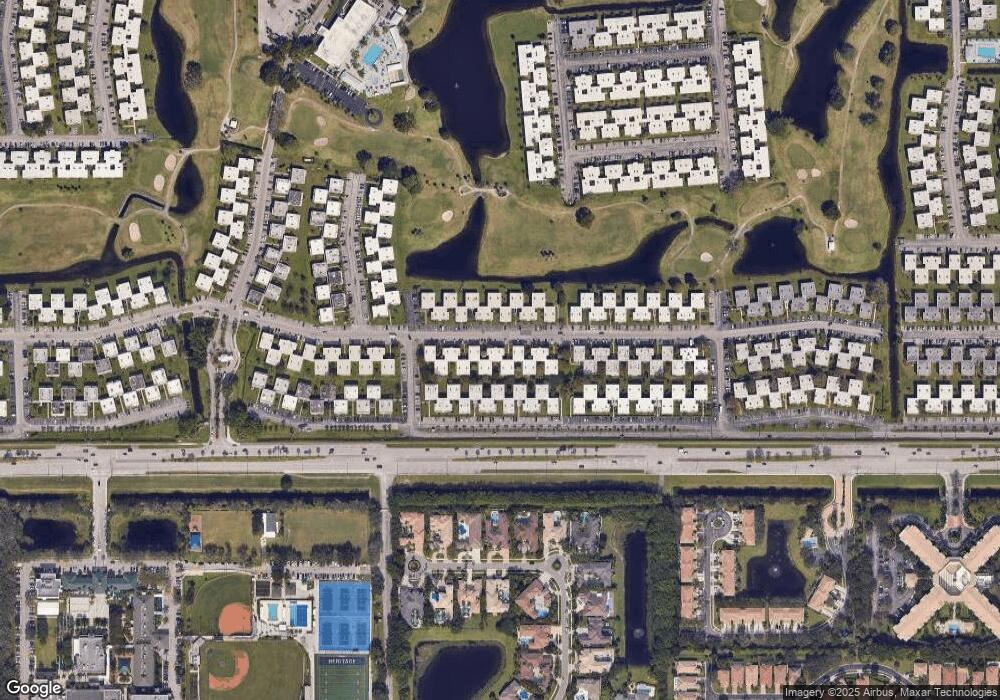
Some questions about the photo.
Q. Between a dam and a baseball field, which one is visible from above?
baseball field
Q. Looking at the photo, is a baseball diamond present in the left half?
Yes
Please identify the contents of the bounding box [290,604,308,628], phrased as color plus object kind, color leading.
blue swimming pool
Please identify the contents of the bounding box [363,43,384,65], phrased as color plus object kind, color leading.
blue swimming pool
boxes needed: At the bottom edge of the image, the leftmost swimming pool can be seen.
[115,655,132,683]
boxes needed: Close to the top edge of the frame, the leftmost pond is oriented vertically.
[152,0,197,148]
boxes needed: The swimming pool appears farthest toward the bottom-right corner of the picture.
[937,620,975,636]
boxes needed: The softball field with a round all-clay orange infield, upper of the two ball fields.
[184,573,253,637]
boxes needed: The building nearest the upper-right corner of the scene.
[968,0,998,30]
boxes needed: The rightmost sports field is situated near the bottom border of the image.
[315,654,369,700]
